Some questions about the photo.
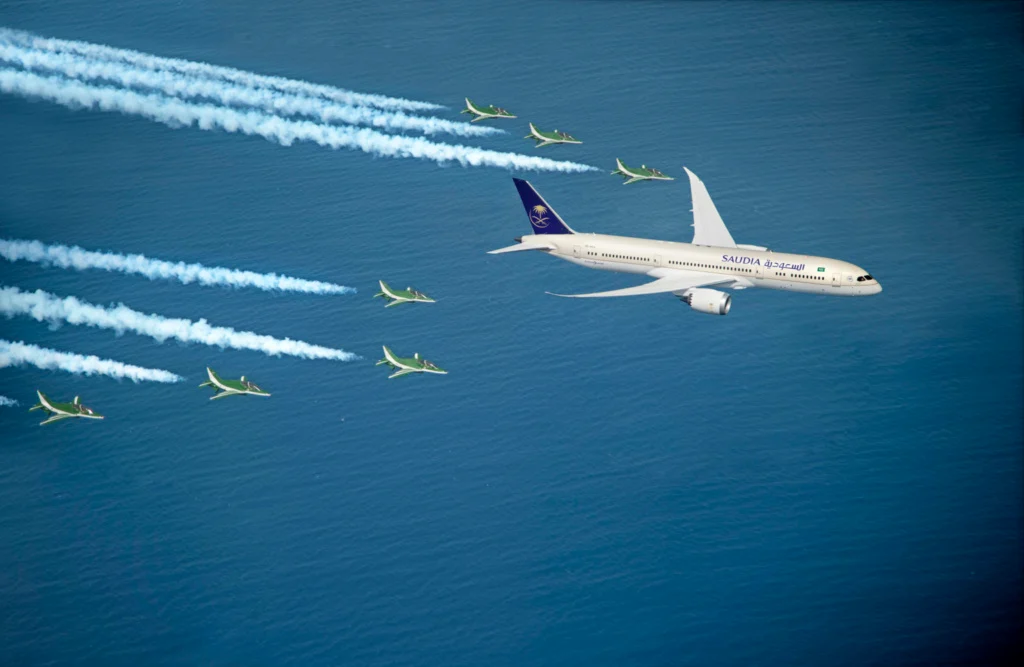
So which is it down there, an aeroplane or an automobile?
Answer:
aeroplane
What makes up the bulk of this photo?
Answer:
water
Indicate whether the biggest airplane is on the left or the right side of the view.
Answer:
right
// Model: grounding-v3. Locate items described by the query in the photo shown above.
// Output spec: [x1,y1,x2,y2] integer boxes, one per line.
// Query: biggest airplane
[489,167,882,315]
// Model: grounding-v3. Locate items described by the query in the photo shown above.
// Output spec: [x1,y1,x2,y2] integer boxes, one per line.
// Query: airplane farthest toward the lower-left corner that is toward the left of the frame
[29,390,106,425]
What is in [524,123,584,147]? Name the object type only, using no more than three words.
airplane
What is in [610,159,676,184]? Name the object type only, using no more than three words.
airplane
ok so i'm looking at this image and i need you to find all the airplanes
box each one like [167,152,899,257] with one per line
[524,123,584,147]
[460,98,521,122]
[610,159,676,184]
[489,167,882,315]
[198,367,274,400]
[373,281,437,307]
[29,390,106,425]
[375,346,447,379]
